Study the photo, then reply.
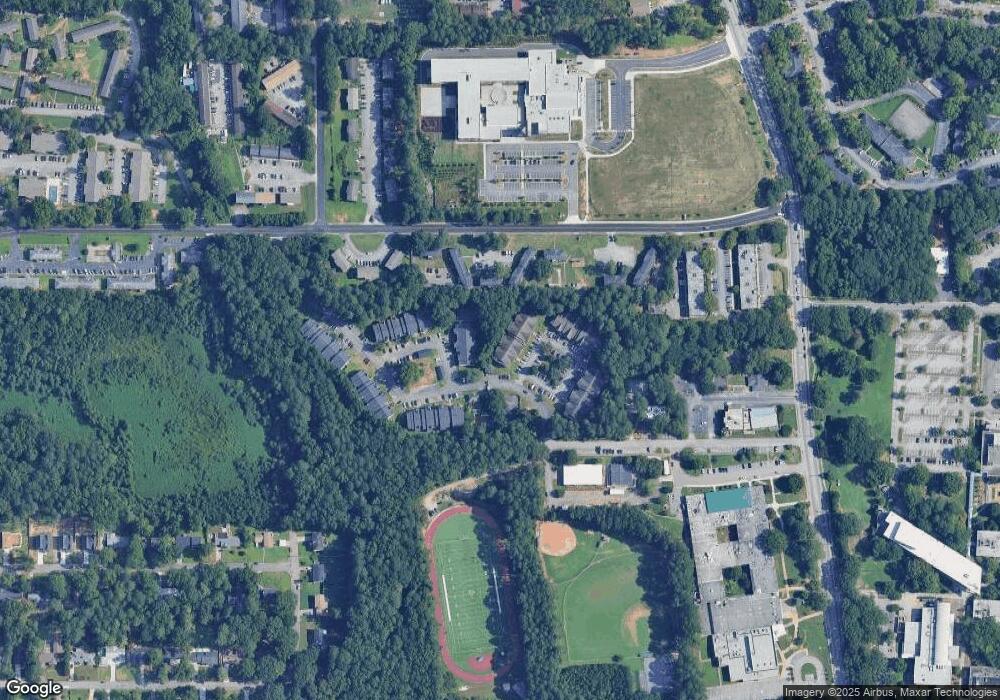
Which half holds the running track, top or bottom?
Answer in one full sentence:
It is in the bottom half that the running track appears.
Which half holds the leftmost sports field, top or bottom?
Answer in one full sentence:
The leftmost sports field sits in the bottom half of the picture.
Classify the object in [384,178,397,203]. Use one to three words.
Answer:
building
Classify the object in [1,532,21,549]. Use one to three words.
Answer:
house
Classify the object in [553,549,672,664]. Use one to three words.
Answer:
baseball field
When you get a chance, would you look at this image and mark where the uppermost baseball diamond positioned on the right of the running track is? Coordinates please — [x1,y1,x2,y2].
[537,520,646,583]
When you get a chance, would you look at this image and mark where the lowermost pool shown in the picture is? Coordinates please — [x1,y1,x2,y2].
[47,178,62,204]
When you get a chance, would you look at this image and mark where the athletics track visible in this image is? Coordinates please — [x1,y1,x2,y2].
[425,502,519,683]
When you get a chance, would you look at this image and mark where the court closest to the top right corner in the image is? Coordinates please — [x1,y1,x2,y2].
[890,99,934,139]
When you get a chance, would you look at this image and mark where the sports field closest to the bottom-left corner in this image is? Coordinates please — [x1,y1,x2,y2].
[433,511,510,675]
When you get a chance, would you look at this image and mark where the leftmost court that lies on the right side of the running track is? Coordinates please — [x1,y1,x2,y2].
[644,656,669,692]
